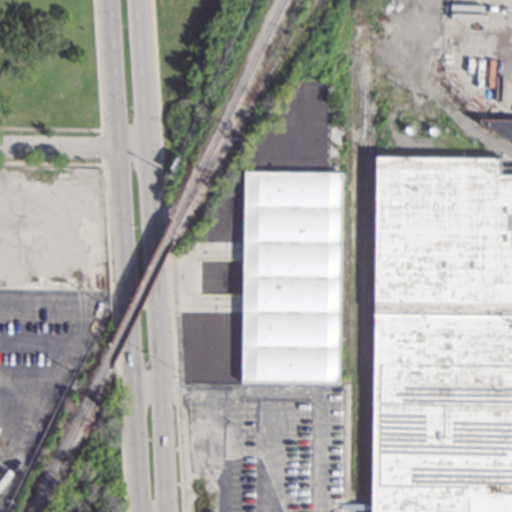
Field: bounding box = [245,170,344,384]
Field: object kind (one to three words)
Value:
building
